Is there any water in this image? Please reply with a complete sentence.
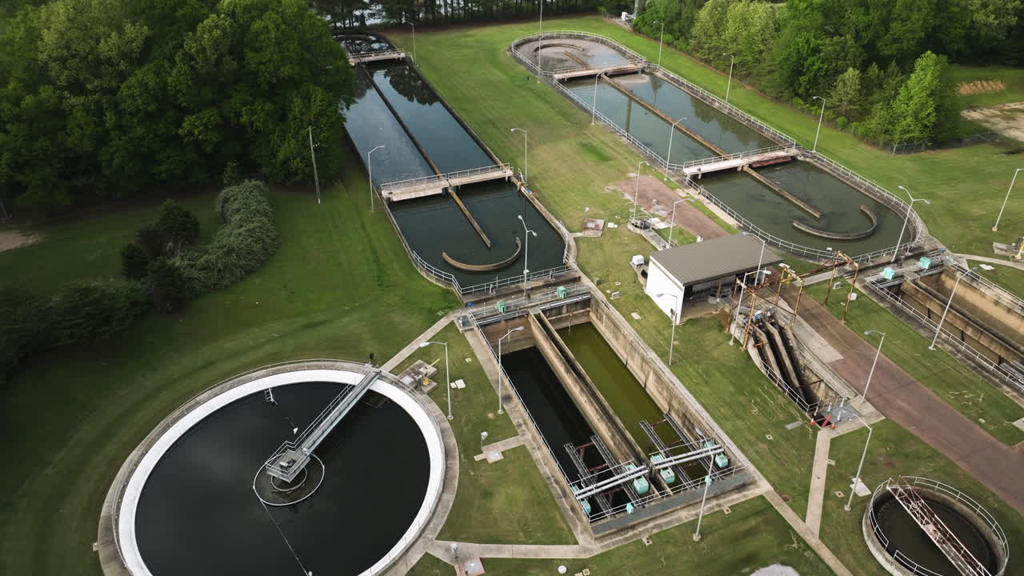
Yes, there's water in this view.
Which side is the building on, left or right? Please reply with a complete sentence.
The building sits on the right side.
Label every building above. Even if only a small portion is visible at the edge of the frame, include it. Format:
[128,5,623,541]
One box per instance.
[645,232,788,324]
